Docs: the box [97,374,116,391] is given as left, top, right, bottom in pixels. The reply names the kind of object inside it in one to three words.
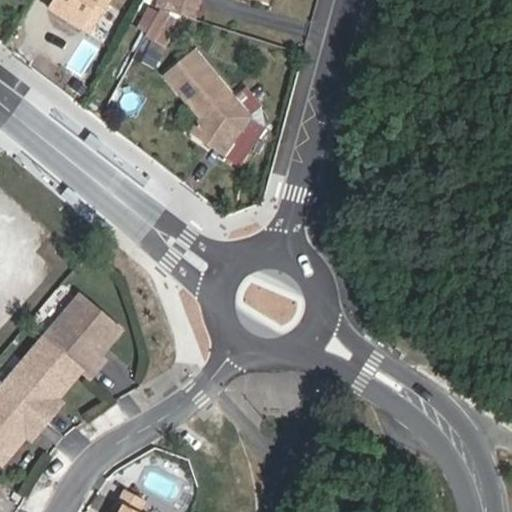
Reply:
car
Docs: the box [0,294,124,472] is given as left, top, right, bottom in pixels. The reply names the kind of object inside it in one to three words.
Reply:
house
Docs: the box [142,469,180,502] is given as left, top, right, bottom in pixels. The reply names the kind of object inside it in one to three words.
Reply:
swimming pool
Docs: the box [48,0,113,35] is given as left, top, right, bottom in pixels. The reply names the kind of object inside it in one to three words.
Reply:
house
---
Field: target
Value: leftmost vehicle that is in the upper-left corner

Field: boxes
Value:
[44,32,66,49]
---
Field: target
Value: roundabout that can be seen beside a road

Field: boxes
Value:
[196,228,340,374]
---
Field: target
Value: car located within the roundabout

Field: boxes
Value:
[300,254,312,278]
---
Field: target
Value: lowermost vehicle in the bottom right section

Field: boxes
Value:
[412,381,433,400]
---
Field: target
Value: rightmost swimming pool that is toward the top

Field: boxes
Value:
[119,86,147,118]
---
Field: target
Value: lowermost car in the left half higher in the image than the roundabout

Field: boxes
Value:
[192,161,208,182]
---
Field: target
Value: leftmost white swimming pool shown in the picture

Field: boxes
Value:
[66,38,100,77]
